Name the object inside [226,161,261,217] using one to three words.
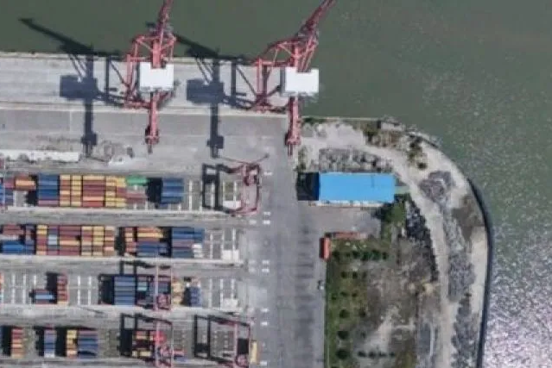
crane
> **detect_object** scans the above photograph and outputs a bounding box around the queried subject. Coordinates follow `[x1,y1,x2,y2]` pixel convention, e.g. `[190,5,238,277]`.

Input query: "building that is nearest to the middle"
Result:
[312,173,395,211]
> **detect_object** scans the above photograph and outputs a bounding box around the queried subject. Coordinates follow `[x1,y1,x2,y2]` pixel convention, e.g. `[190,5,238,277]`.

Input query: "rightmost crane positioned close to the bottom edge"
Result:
[219,317,254,368]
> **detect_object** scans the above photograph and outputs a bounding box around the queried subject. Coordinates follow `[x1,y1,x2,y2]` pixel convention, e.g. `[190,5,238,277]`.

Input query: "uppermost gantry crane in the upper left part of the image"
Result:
[118,0,177,163]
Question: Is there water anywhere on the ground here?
Yes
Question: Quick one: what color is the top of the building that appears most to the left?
blue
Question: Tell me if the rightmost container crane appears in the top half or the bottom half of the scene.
top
